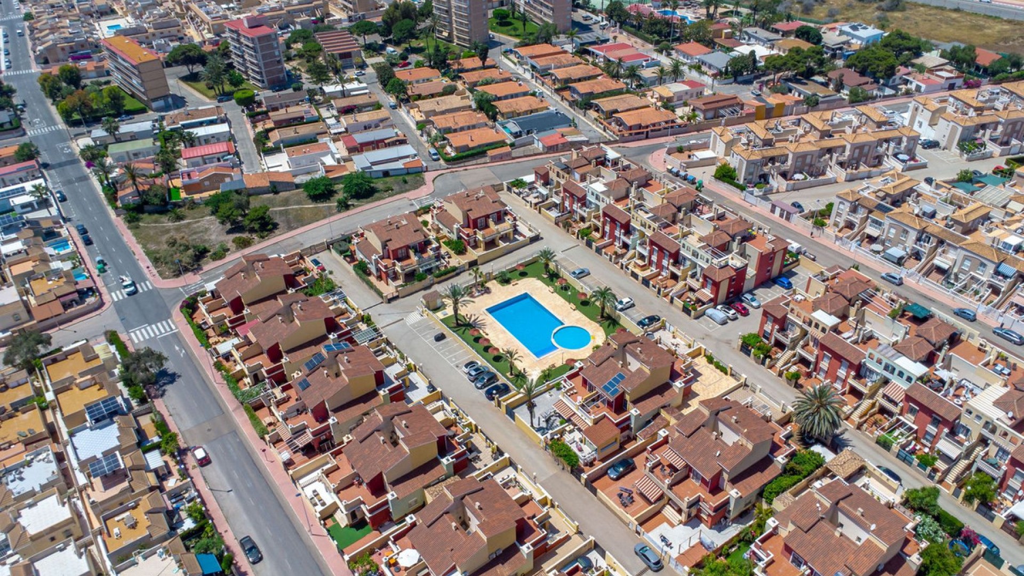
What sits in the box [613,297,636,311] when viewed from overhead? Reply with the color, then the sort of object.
white car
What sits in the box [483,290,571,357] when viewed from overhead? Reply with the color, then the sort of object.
blue swimming pool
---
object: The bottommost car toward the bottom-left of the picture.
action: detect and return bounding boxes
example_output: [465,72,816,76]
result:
[238,535,263,565]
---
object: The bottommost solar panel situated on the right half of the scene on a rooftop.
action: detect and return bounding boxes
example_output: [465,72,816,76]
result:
[602,372,628,395]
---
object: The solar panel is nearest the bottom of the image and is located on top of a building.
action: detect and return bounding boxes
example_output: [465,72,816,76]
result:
[90,453,121,477]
